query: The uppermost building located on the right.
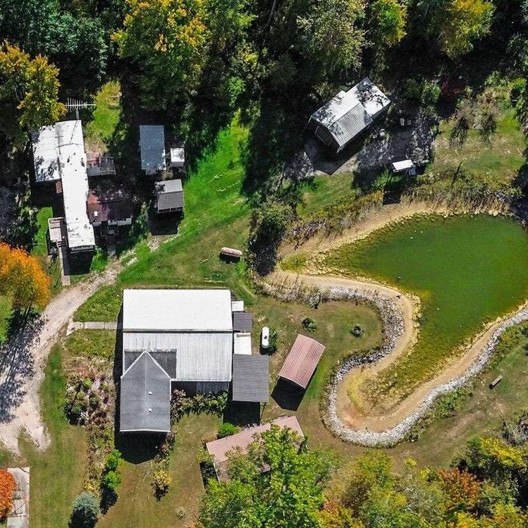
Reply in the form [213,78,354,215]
[310,69,391,153]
